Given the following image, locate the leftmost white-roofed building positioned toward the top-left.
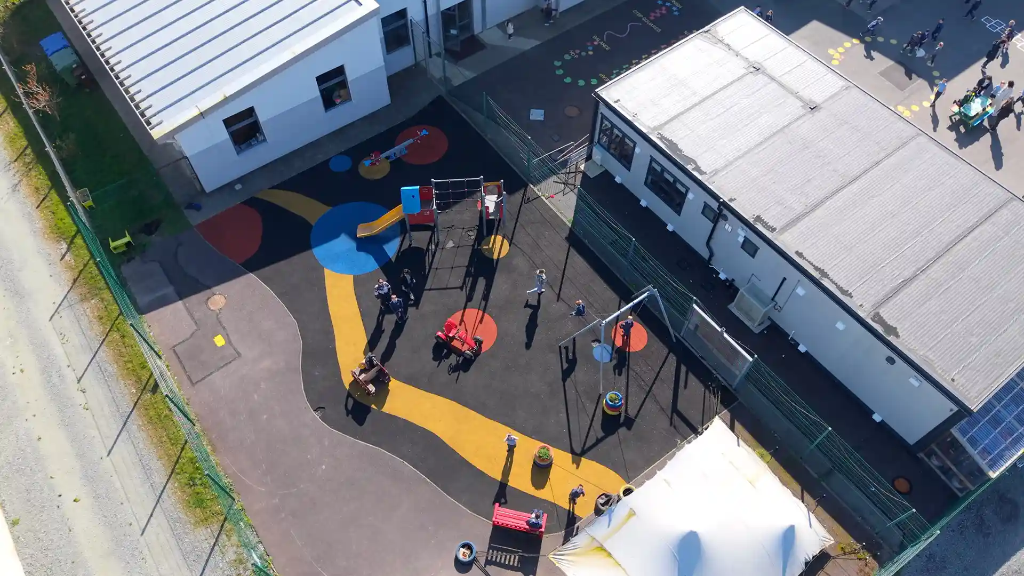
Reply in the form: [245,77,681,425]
[55,0,390,192]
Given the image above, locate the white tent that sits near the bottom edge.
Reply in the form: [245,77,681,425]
[476,392,863,576]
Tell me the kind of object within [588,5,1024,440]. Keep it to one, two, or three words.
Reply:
building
